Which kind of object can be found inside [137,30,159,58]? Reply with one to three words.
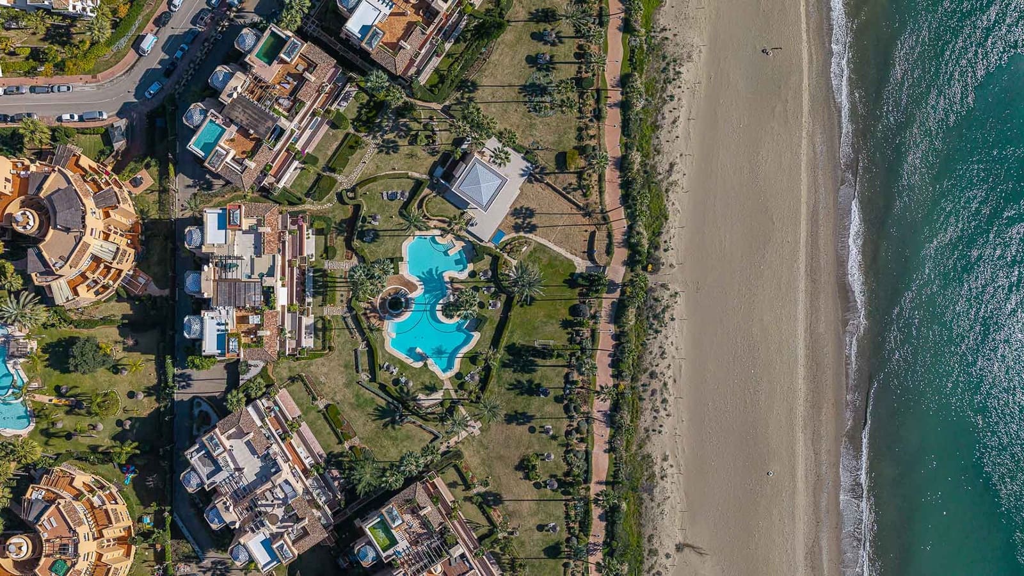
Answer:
vehicle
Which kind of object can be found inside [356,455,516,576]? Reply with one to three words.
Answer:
building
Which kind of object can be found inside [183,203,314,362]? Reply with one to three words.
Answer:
building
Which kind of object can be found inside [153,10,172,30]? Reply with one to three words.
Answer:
car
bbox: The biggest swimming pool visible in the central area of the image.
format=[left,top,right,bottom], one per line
[382,230,480,379]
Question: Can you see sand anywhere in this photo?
Yes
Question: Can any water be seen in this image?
Yes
